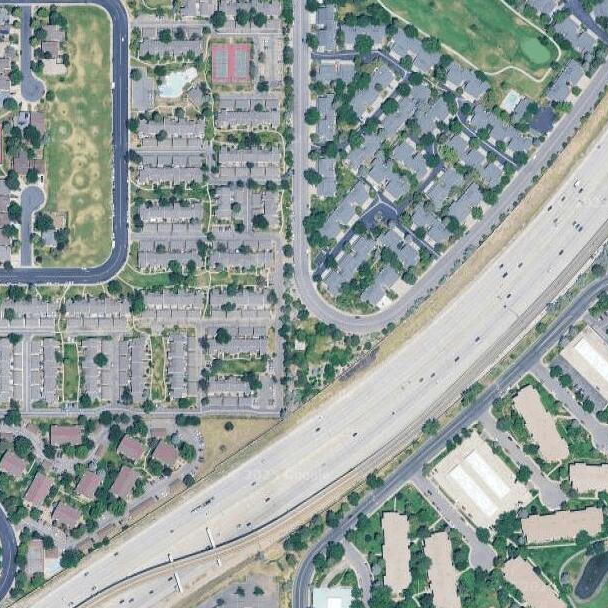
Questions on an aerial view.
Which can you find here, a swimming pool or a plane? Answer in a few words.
swimming pool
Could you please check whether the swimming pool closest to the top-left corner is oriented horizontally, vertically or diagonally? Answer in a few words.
diagonally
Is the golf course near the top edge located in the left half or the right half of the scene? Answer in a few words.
right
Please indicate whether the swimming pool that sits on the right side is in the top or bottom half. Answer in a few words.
top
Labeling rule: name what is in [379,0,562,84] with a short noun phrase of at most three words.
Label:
golf course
